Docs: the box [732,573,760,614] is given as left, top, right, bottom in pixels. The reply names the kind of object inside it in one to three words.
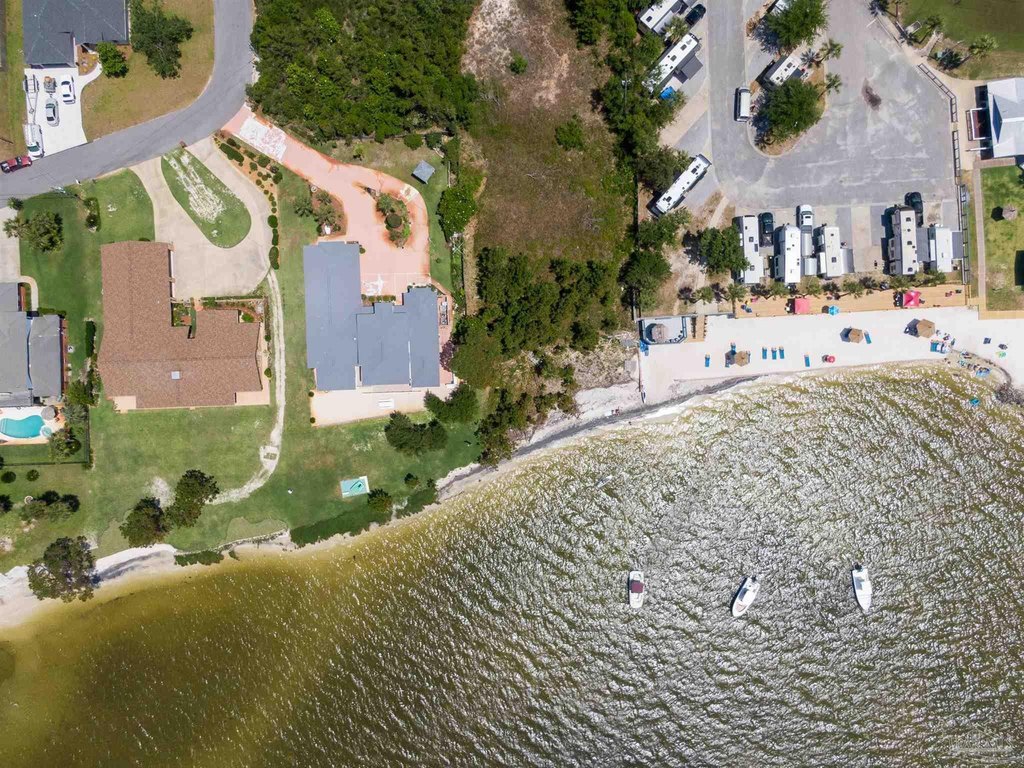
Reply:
boat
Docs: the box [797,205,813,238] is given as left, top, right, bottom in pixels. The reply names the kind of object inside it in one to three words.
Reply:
vehicle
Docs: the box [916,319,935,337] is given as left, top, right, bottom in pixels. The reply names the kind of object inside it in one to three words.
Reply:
umbrella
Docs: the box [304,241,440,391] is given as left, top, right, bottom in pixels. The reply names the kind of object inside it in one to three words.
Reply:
house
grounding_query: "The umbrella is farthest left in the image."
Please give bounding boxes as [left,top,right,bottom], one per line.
[42,406,57,420]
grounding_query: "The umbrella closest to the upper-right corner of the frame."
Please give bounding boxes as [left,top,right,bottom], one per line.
[999,204,1018,220]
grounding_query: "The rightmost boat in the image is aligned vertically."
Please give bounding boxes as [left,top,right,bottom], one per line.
[851,564,872,612]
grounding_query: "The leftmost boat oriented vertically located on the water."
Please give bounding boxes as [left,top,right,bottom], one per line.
[628,570,644,608]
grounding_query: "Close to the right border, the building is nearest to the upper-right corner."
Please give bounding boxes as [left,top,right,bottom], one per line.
[968,79,1024,157]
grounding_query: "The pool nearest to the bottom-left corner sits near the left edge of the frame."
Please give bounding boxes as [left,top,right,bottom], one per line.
[0,402,66,445]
